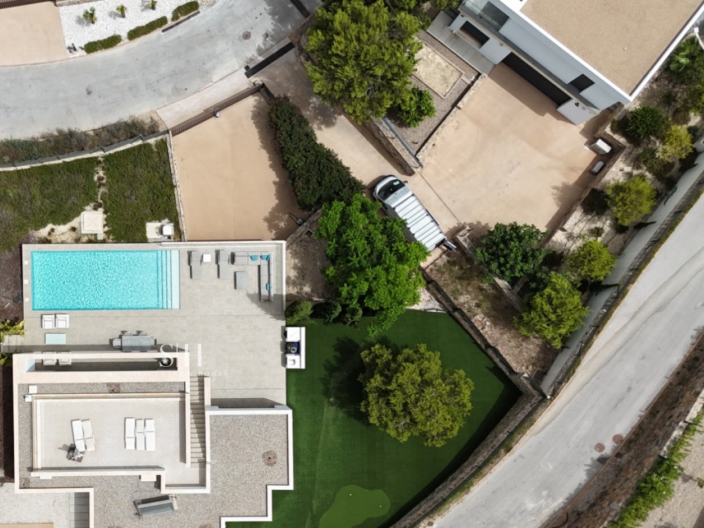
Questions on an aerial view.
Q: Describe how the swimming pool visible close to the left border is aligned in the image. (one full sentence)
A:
Seen from above, the swimming pool visible close to the left border lies horizontally.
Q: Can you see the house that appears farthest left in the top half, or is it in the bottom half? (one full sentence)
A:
The house that appears farthest left is in the bottom half of the image.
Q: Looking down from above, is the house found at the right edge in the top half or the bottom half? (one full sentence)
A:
The top half of the photo is where the house found at the right edge is.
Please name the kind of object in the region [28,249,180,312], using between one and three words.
swimming pool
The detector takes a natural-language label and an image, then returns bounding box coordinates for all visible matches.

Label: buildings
[14,351,293,528]
[433,0,701,135]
